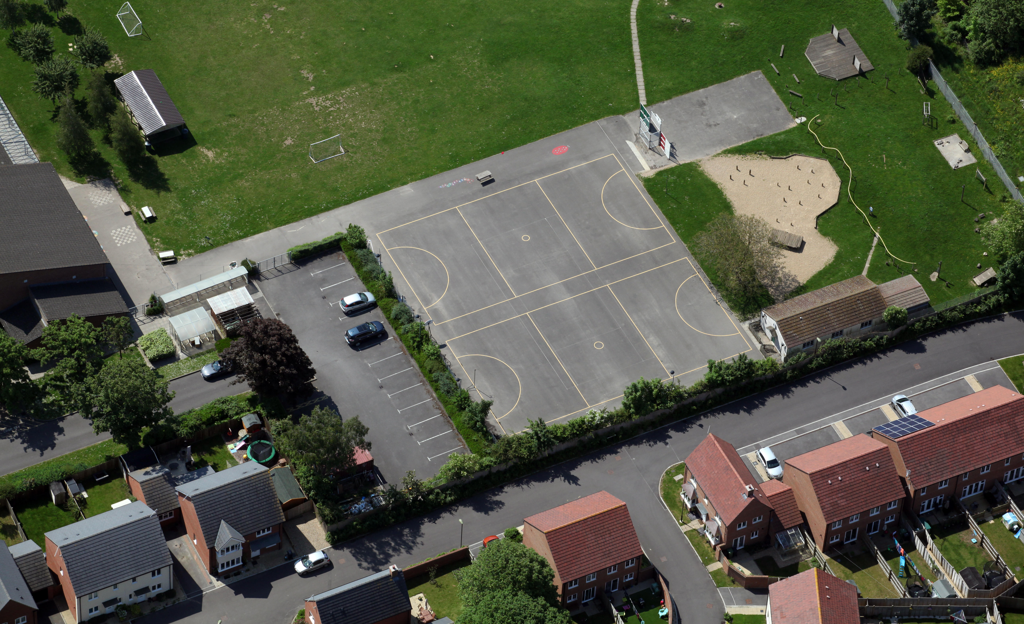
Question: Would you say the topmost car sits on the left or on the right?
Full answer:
The topmost car appears in the left half of the scene.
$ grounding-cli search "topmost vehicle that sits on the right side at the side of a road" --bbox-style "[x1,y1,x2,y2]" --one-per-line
[888,391,918,417]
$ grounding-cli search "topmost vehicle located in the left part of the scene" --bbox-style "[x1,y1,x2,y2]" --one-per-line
[338,291,376,314]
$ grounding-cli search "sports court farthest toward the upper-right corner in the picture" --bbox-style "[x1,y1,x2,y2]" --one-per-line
[622,70,798,169]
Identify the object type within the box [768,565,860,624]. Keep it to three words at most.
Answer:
house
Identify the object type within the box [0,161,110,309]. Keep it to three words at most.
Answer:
building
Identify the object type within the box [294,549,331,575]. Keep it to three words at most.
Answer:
car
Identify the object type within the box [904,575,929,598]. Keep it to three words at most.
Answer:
trampoline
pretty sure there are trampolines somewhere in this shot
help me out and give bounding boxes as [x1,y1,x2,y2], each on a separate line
[904,575,929,598]
[247,434,275,465]
[981,559,1006,588]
